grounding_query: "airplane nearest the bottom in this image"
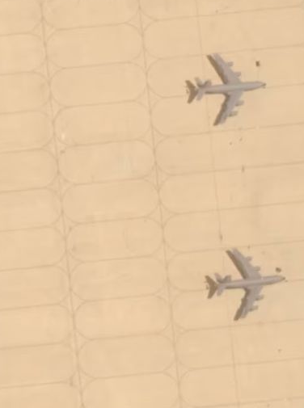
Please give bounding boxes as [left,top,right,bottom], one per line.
[214,247,285,318]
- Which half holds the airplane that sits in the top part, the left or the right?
right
